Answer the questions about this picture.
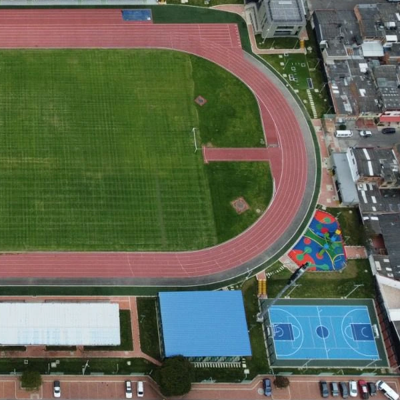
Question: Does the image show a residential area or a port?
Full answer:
It's a residential area.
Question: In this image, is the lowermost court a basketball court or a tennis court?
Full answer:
I'd say the lowermost court is a basketball court.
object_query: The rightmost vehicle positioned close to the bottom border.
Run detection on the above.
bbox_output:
[378,381,400,400]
